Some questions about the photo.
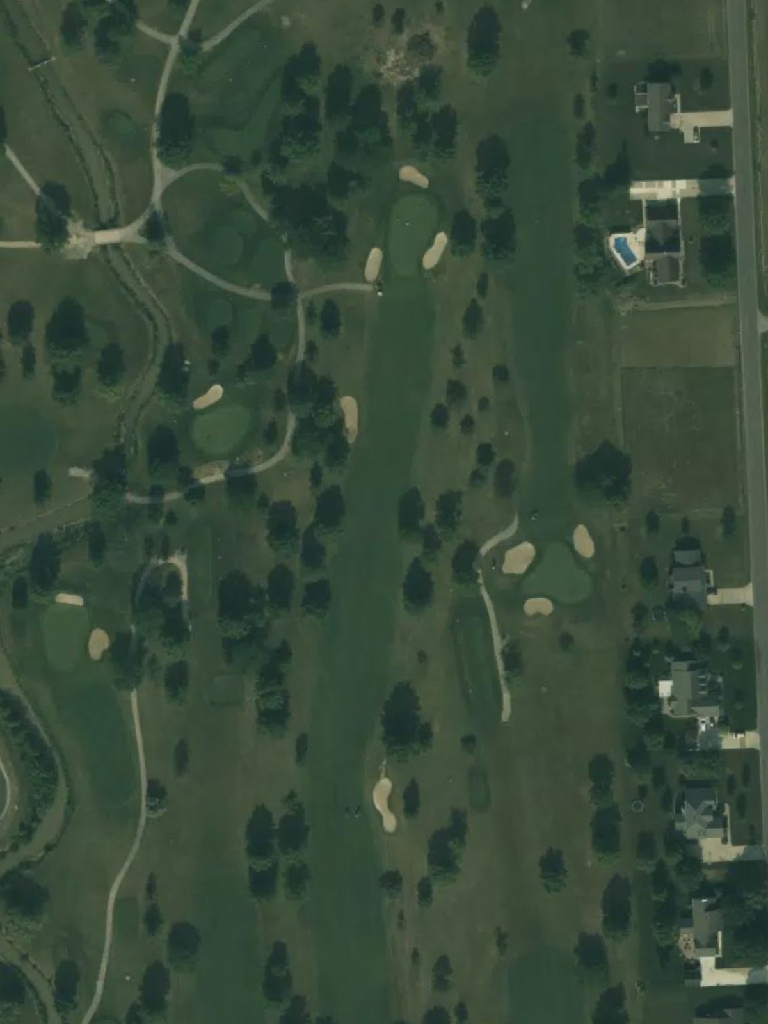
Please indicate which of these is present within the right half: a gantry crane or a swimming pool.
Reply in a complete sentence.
It is a swimming pool that can be seen within the right half.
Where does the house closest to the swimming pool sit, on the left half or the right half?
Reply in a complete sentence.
The house closest to the swimming pool sits on the right side.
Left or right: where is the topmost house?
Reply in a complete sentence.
The topmost house is on the right side of the image.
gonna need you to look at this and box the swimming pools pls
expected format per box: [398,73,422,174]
[609,228,645,273]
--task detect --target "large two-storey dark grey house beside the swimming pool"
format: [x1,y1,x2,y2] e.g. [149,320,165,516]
[646,218,680,284]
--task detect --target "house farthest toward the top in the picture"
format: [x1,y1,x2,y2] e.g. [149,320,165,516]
[635,81,674,132]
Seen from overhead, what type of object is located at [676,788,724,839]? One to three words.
house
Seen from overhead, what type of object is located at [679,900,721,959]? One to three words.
house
